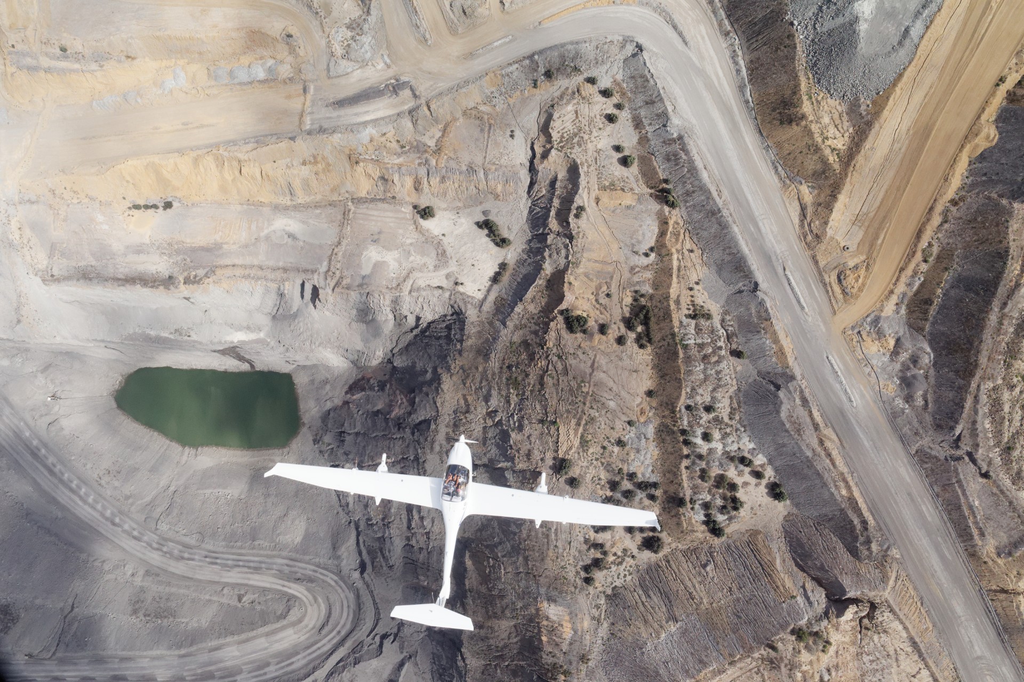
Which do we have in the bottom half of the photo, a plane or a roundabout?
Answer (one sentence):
What appears in the bottom half of the photo is a plane.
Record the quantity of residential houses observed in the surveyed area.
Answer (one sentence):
There are no residential houses in this view.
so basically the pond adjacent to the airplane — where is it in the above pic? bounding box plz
[116,367,300,449]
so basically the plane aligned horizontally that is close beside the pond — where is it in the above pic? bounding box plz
[263,436,660,631]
